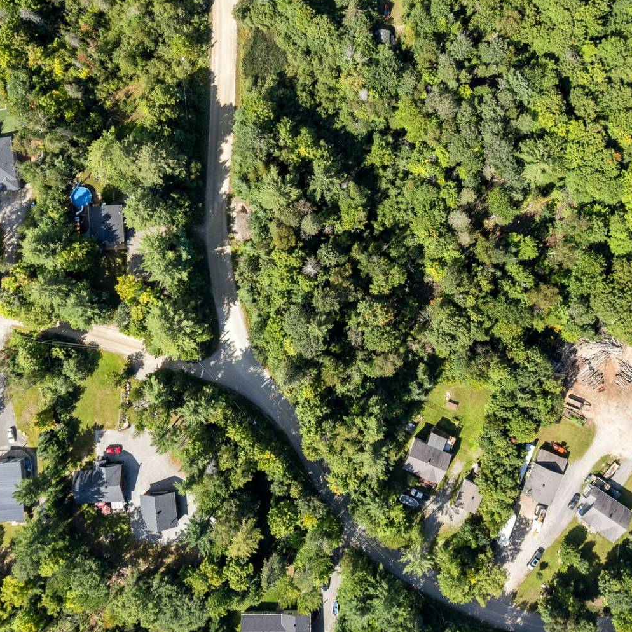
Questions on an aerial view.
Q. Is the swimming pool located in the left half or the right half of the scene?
left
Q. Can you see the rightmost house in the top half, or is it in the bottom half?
bottom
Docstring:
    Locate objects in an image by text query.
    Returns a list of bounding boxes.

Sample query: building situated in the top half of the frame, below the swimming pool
[80,204,126,250]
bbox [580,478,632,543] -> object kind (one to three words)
house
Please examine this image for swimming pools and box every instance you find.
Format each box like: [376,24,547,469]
[69,186,91,206]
